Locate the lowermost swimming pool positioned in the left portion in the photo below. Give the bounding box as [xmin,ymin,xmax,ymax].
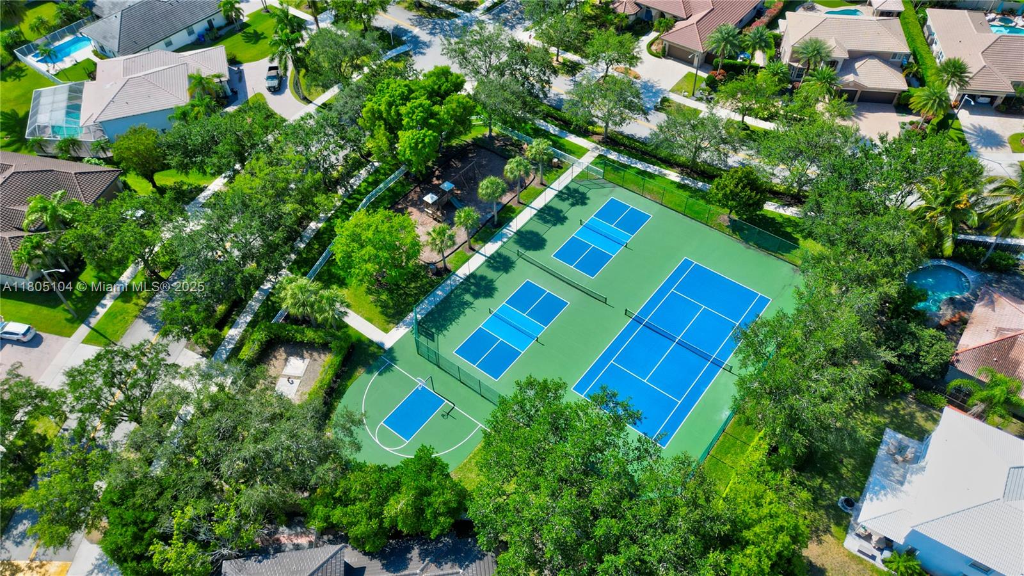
[52,102,82,138]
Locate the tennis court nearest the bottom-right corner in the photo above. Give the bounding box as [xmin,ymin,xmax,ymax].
[572,257,770,448]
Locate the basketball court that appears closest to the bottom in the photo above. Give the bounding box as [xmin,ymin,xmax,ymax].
[358,359,490,460]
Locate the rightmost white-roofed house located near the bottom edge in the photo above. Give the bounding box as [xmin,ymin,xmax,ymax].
[849,404,1024,576]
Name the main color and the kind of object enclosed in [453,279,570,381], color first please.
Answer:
blue sports court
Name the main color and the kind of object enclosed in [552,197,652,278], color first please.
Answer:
blue sports court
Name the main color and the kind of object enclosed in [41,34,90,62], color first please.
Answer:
blue swimming pool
